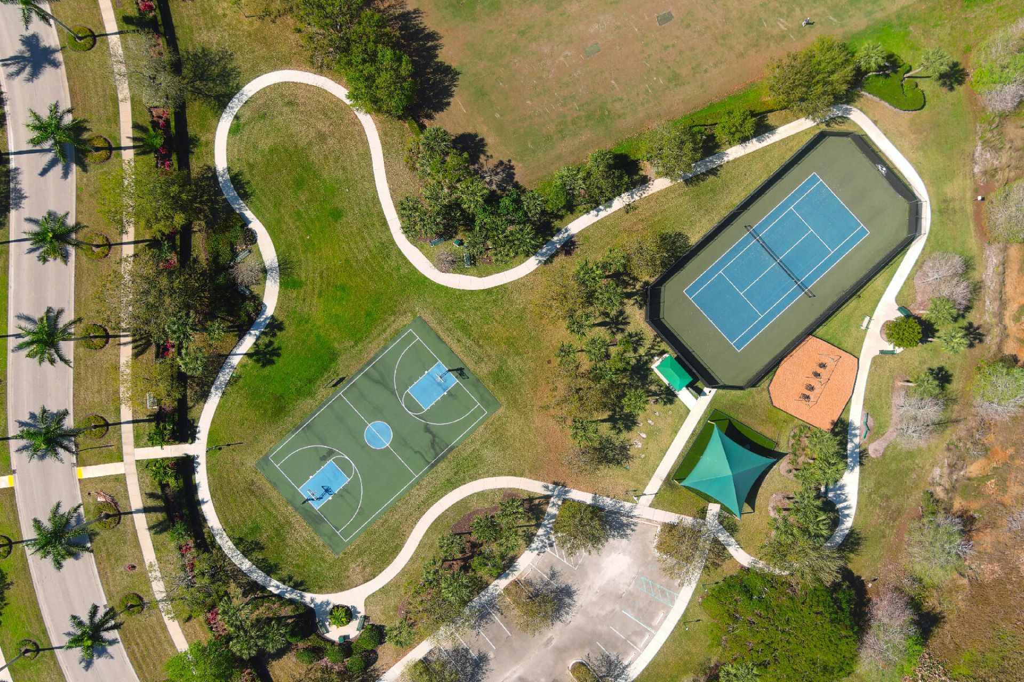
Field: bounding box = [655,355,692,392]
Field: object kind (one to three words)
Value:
building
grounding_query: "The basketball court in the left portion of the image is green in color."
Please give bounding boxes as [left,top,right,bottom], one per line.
[257,317,500,555]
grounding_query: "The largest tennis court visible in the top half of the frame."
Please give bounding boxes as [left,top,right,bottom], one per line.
[644,134,907,390]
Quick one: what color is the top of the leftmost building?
green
